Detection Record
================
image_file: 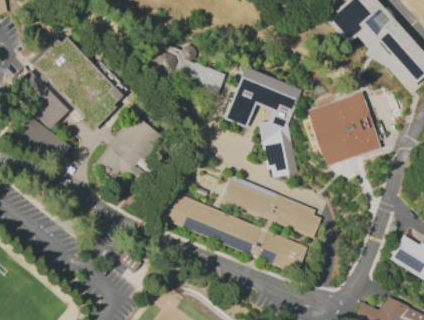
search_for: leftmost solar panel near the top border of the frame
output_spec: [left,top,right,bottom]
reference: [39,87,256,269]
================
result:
[334,0,370,36]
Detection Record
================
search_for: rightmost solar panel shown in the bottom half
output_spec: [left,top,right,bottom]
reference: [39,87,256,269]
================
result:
[395,248,424,272]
